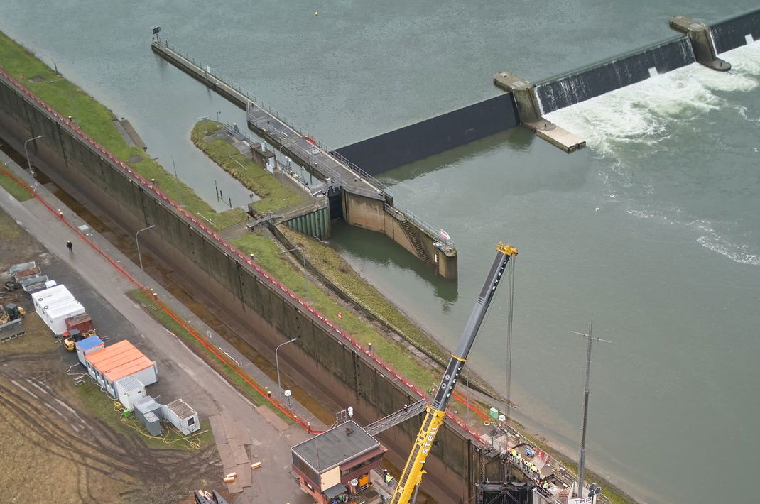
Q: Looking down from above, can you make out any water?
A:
Yes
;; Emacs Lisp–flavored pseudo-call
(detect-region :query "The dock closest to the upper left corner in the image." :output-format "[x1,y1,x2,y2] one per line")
[113,117,152,153]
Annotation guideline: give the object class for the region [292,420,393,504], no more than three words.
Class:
building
